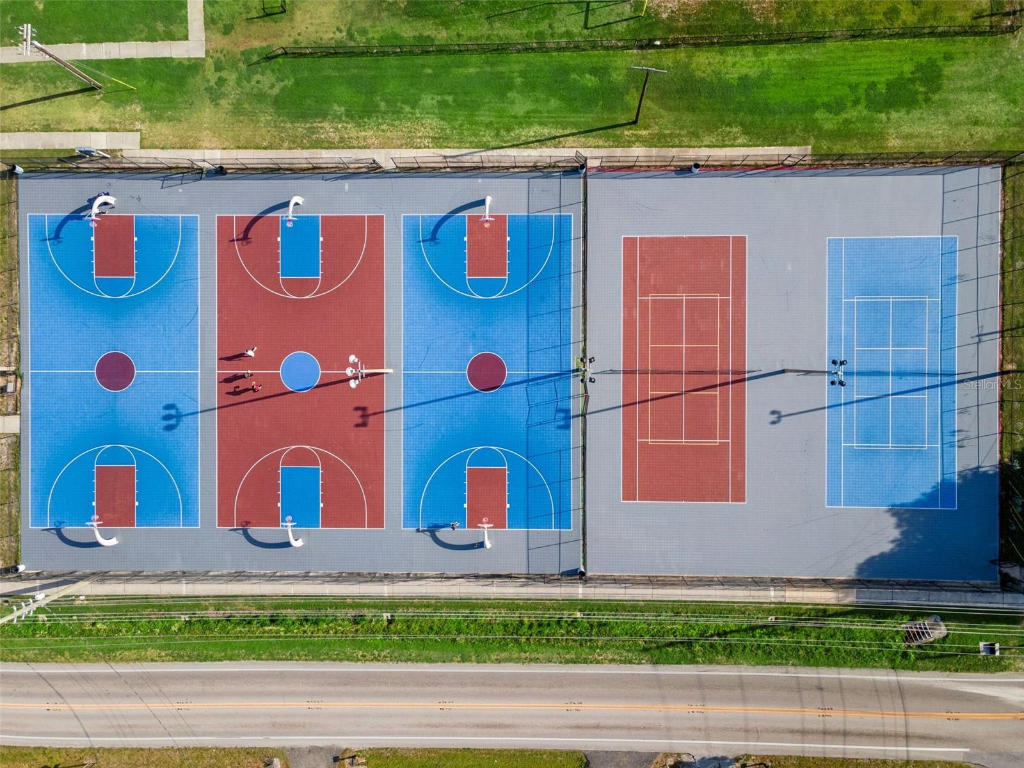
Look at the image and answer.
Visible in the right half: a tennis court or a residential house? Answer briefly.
tennis court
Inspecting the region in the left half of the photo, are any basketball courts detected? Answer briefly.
Yes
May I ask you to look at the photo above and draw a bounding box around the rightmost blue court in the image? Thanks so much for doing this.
[826,235,959,510]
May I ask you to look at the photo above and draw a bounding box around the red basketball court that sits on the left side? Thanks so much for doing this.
[216,214,385,529]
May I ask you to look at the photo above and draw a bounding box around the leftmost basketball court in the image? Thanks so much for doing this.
[27,214,200,528]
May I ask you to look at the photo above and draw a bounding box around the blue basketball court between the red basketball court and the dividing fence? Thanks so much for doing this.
[402,214,573,530]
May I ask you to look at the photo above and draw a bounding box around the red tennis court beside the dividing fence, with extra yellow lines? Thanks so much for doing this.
[622,235,747,504]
